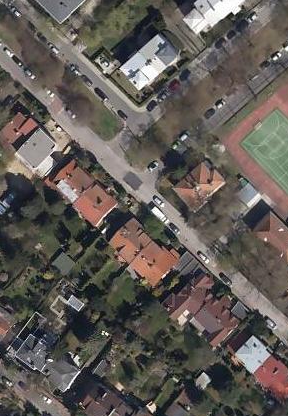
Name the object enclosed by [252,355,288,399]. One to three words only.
house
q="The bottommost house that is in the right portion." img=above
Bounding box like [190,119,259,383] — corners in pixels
[165,392,190,416]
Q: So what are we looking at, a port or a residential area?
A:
residential area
